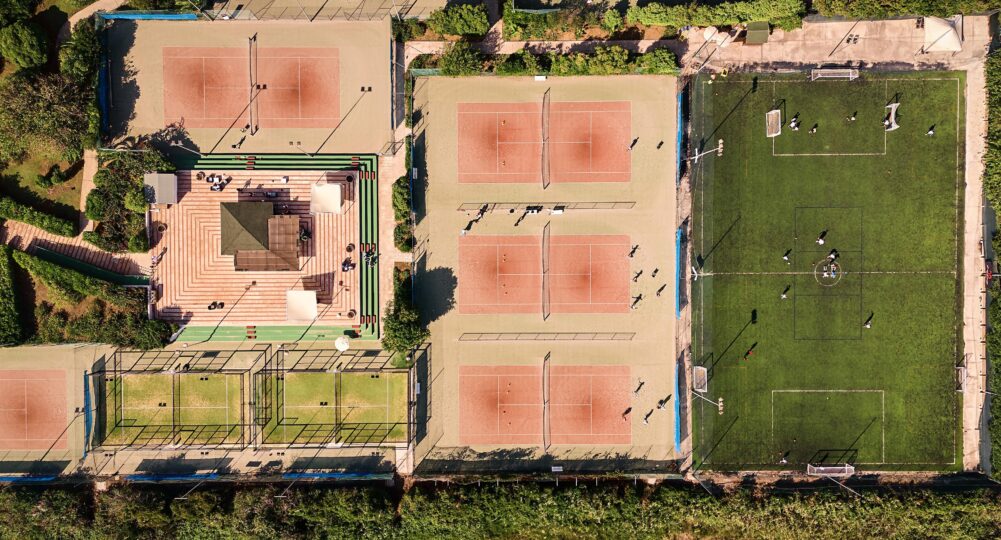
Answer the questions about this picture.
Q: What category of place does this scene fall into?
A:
sports ground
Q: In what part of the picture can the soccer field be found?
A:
right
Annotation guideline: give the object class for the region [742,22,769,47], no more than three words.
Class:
shed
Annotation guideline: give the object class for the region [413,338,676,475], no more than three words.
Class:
tennis court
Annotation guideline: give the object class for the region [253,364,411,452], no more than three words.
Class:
sports court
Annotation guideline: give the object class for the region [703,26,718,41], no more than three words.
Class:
umbrella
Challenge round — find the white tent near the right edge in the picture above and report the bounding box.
[914,15,963,58]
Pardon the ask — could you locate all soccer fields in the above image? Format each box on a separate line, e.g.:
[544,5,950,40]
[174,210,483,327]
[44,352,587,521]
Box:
[692,70,966,472]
